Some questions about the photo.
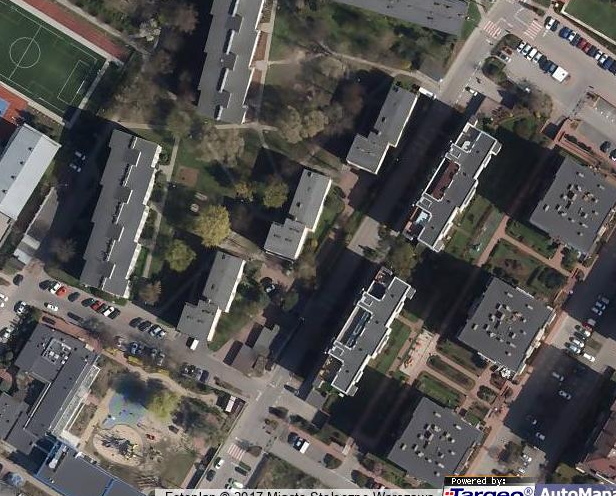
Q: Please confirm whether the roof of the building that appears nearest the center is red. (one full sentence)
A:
No, the roof of the building that appears nearest the center is actually gray.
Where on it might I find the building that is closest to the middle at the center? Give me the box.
[265,169,333,261]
